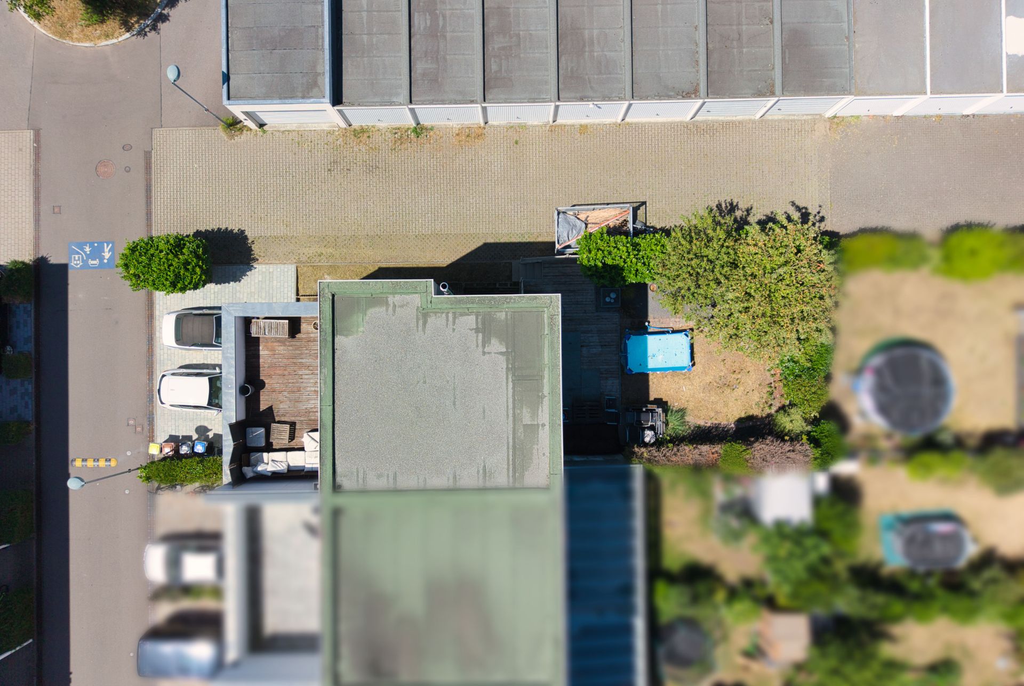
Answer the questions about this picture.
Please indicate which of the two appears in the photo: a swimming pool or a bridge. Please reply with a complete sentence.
Of the two, only a swimming pool appears.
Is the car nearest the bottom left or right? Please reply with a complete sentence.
You can find the car nearest the bottom on the left side of the picture.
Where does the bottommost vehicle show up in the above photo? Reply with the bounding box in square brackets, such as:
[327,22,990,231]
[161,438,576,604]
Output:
[130,628,223,686]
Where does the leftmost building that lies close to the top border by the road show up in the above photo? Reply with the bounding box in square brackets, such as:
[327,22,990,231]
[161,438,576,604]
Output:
[223,0,353,133]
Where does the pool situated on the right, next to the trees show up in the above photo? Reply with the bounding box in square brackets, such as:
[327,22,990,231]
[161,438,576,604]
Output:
[619,326,694,376]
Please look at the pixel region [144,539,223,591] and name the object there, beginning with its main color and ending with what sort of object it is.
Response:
white car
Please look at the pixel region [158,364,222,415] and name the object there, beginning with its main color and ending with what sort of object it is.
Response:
white car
